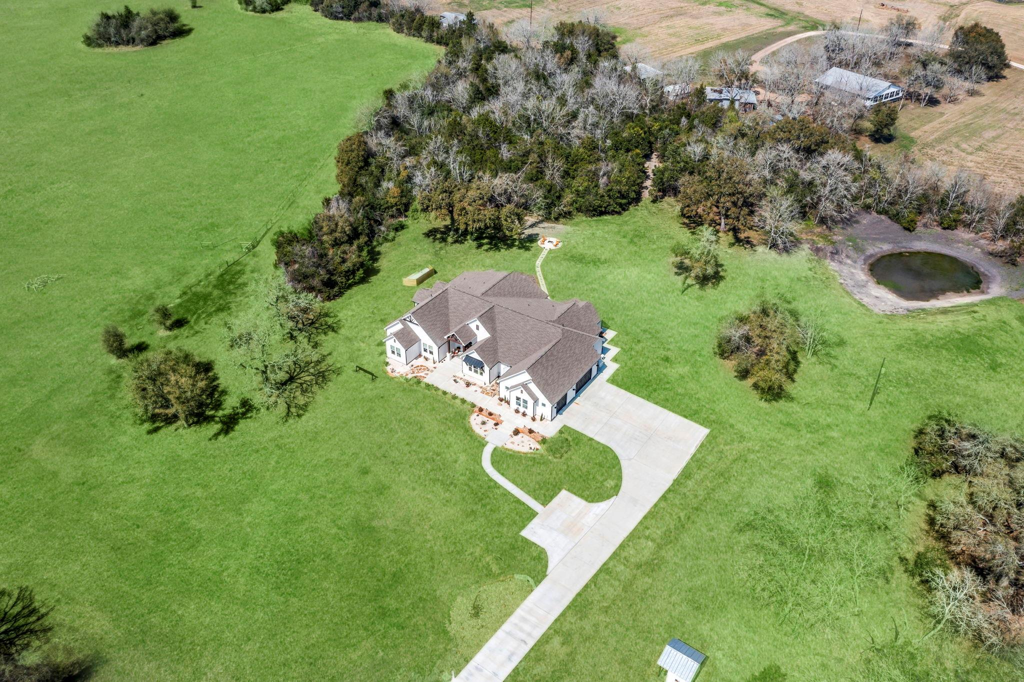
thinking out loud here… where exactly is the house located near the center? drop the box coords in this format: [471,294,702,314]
[382,269,608,422]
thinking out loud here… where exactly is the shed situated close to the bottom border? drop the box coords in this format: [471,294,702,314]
[658,640,704,682]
